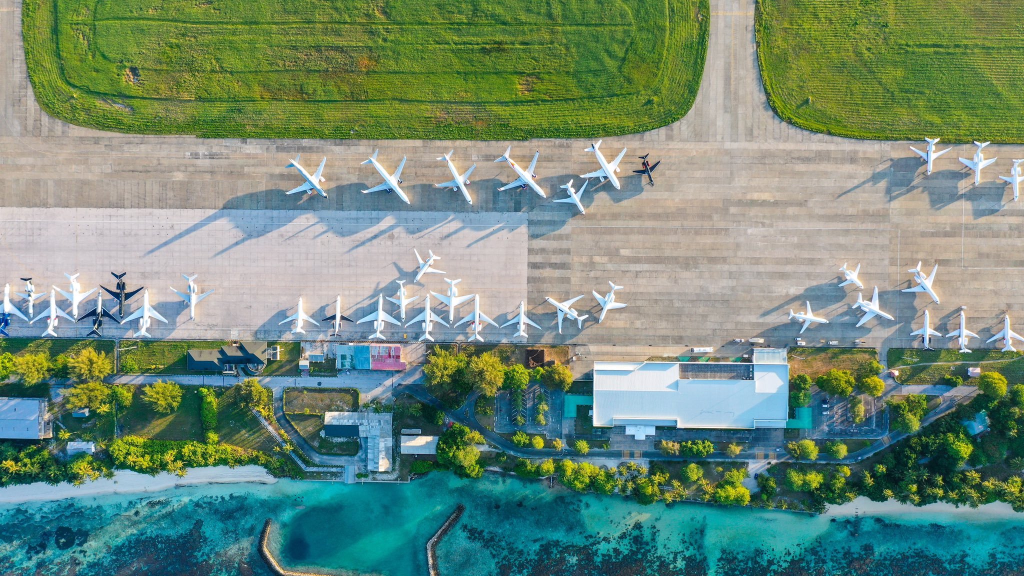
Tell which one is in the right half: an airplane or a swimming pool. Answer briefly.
airplane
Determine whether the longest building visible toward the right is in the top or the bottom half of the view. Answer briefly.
bottom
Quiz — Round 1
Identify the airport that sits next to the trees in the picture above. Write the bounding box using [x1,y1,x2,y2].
[0,0,1024,373]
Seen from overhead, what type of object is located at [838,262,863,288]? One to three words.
airplane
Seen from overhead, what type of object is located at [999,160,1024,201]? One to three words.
airplane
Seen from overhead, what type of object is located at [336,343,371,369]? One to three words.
shed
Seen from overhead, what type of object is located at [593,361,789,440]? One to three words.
building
